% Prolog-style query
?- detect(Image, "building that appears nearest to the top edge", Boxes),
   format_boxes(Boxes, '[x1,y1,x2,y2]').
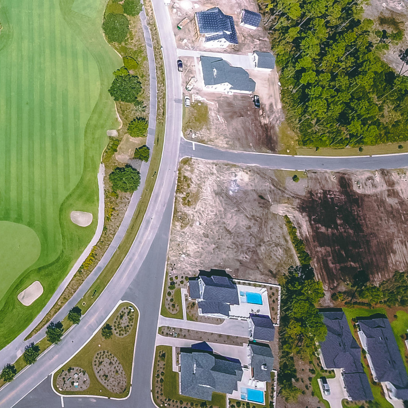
[195,10,262,47]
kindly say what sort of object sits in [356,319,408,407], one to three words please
house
